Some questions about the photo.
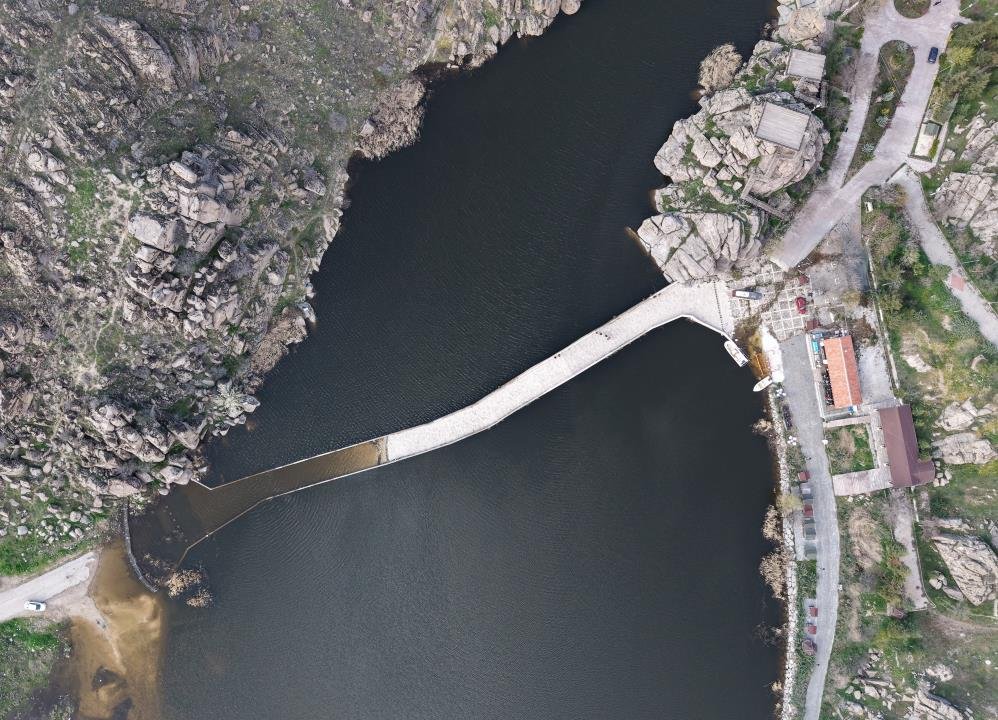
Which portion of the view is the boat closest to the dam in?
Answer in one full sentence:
The boat closest to the dam is in the right part of the image.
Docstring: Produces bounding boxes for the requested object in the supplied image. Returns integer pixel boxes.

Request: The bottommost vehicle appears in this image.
[21,601,45,614]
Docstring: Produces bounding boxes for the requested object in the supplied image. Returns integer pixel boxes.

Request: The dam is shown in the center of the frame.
[146,277,733,569]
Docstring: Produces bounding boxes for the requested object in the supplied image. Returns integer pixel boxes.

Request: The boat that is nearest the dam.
[726,343,748,366]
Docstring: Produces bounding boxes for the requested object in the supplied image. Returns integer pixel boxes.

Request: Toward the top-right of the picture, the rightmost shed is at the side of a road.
[917,122,940,139]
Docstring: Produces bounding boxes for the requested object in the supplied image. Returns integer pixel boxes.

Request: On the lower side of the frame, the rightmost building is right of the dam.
[868,405,939,486]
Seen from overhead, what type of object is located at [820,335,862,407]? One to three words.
house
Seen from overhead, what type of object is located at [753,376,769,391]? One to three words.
boat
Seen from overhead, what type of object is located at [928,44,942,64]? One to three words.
car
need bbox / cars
[796,295,809,315]
[928,44,942,64]
[950,17,971,32]
[21,601,45,614]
